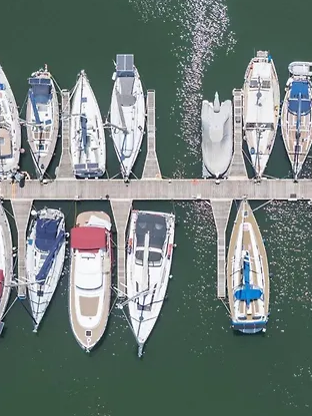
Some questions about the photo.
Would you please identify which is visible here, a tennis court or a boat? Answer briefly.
boat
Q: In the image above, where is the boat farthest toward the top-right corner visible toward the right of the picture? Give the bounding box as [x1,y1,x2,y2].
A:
[289,61,312,76]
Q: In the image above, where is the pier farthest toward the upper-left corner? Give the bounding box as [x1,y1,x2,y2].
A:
[55,89,75,178]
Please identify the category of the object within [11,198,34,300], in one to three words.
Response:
pier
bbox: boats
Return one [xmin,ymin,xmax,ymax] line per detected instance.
[5,64,62,182]
[222,196,273,334]
[278,73,312,184]
[0,66,23,178]
[289,61,312,76]
[100,54,148,184]
[2,198,70,334]
[69,199,120,355]
[235,48,285,182]
[55,66,109,180]
[114,198,177,357]
[0,198,20,331]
